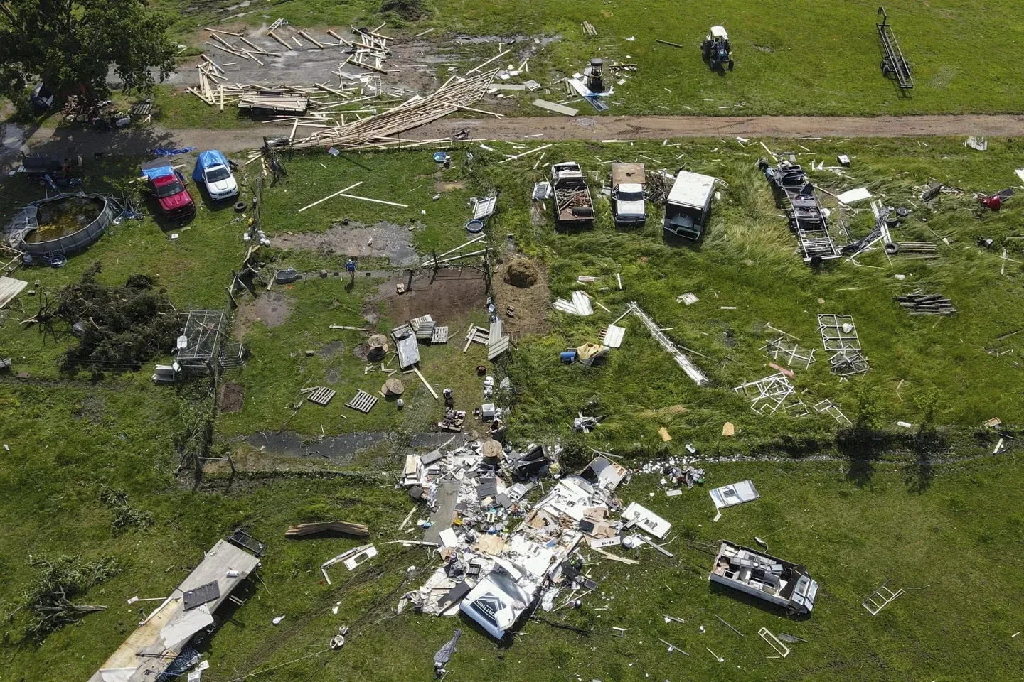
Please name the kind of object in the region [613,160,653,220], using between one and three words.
truck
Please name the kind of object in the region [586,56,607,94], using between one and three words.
work vehicle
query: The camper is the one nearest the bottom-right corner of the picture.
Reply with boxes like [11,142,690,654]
[706,541,818,614]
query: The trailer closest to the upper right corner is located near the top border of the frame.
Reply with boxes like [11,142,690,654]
[880,1,923,80]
